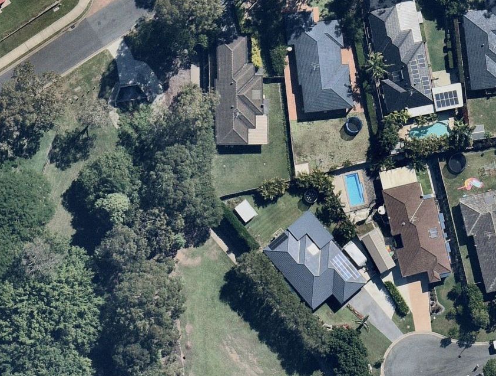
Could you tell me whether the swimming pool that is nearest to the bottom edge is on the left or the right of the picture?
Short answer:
right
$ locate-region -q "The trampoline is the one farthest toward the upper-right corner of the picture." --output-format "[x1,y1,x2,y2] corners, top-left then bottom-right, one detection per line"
[448,155,466,173]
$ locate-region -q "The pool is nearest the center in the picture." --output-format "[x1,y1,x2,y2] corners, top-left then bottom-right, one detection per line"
[344,170,366,208]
